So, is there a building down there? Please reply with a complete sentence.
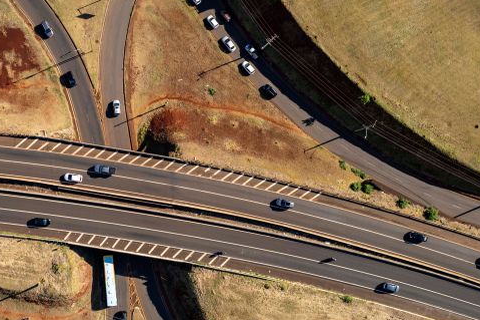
No, no building can be seen from above.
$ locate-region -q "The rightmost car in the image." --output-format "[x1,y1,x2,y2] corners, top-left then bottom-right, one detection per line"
[408,231,428,244]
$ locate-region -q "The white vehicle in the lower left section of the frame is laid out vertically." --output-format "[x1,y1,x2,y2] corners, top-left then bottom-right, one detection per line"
[102,254,118,305]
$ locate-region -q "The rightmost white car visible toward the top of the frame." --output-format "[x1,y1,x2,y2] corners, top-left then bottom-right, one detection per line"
[241,60,256,76]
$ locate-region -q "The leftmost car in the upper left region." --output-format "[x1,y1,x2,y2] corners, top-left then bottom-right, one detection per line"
[40,20,55,39]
